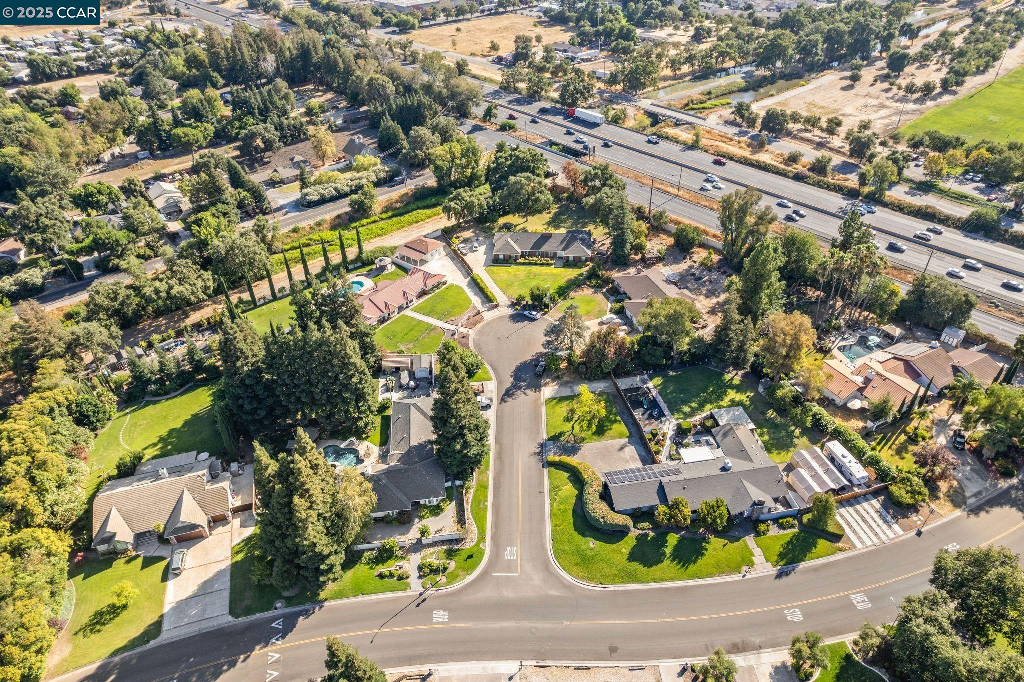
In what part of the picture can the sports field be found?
top right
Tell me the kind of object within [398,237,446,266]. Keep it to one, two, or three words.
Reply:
building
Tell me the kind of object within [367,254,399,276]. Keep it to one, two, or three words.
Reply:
gazebo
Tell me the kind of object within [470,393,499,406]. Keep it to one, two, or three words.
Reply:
vehicle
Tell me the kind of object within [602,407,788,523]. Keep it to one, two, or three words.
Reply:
house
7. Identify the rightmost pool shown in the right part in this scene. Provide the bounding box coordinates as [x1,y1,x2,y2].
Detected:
[837,335,883,364]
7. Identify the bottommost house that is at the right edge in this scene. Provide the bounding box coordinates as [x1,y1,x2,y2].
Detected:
[822,339,998,431]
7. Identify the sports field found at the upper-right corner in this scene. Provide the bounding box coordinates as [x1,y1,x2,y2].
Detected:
[900,52,1024,153]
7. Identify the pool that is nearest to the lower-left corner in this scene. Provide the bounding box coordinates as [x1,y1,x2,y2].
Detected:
[322,446,362,472]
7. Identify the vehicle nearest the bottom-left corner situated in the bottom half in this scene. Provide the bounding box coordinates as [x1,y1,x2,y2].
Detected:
[168,544,187,573]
